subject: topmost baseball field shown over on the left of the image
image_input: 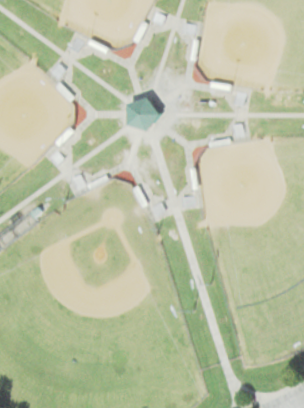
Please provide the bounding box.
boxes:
[28,0,155,50]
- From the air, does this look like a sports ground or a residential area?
sports ground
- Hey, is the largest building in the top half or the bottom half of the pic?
top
